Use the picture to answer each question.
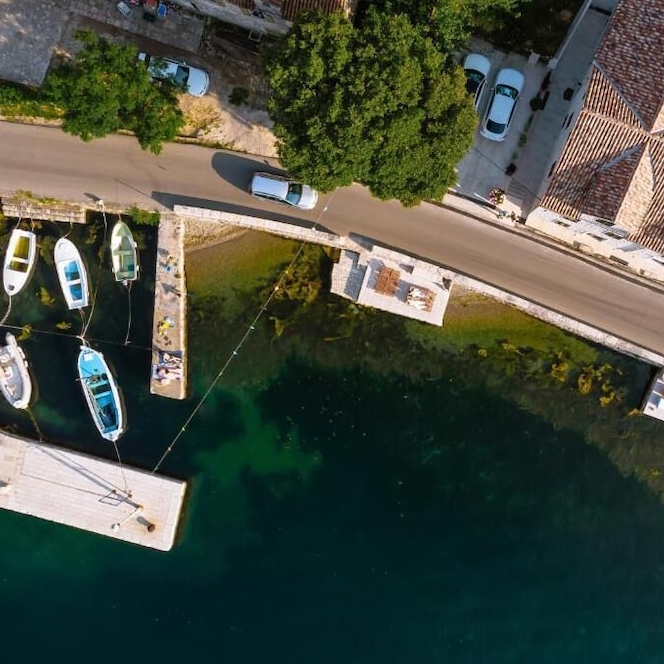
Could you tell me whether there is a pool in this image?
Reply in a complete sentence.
No, no pool is visible in the scene.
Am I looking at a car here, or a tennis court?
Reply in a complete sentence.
The one in the frame is a car.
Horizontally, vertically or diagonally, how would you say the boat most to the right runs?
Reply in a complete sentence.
In this picture, the boat most to the right lies vertically.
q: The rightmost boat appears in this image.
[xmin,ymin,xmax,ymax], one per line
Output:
[109,220,144,287]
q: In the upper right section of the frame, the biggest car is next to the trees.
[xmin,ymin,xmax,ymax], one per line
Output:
[482,64,523,140]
